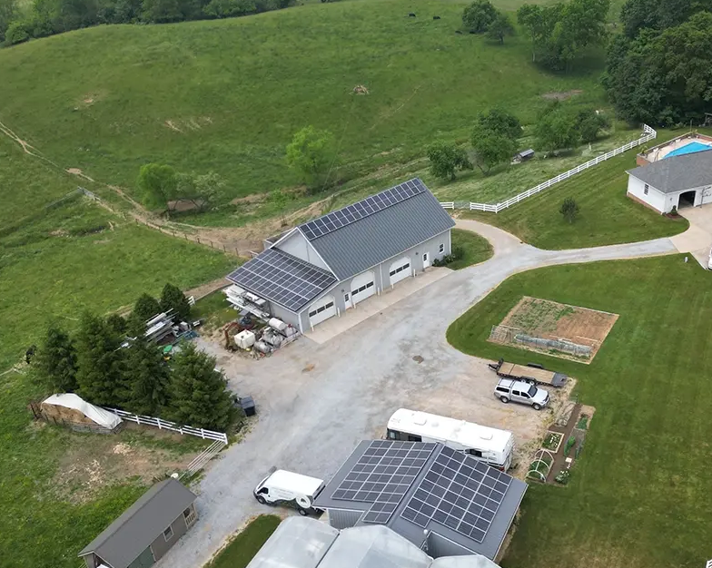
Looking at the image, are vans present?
Yes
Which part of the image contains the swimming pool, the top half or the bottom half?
top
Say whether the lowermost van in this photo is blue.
No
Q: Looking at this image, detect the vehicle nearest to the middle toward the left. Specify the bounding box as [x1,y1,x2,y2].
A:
[218,317,256,339]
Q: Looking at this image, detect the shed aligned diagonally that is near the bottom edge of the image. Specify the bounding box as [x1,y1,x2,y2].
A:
[74,475,200,568]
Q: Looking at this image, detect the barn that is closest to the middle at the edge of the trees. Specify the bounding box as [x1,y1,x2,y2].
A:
[223,174,460,332]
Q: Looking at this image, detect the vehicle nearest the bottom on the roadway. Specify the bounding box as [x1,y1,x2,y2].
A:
[252,467,328,514]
